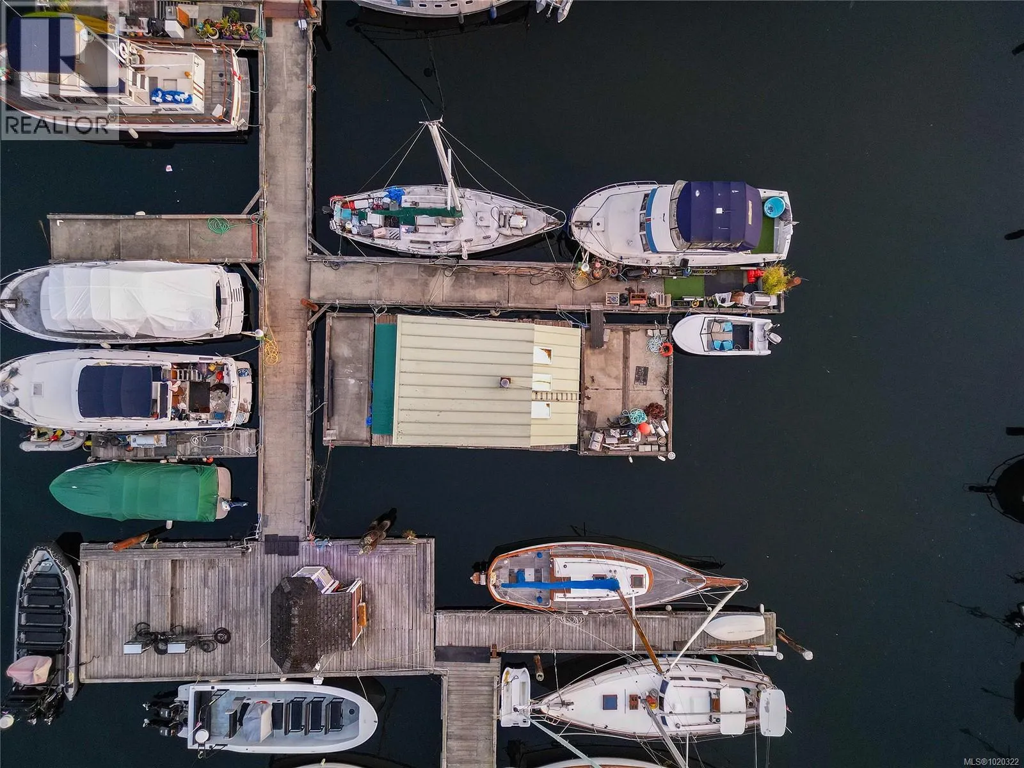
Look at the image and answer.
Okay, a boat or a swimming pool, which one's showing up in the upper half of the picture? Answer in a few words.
boat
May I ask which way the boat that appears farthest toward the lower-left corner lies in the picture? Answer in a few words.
from top to bottom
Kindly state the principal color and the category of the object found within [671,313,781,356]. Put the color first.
white boat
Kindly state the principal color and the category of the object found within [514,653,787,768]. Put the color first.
white boat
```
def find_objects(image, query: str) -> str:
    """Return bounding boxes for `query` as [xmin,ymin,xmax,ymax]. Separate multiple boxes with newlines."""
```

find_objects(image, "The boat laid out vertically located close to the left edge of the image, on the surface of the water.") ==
[2,541,79,721]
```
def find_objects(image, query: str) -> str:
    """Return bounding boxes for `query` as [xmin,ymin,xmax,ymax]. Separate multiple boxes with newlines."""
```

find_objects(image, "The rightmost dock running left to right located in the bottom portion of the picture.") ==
[436,607,776,654]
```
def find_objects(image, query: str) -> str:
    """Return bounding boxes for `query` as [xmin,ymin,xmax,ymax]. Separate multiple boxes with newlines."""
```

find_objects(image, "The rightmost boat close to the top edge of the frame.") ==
[536,0,576,24]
